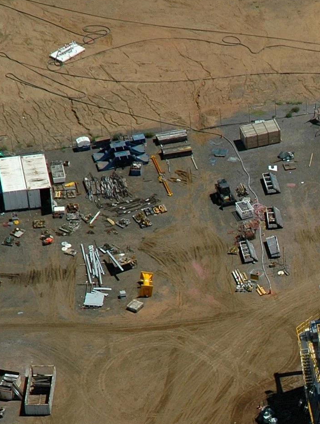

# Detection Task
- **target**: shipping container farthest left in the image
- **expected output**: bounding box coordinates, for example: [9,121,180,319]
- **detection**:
[0,155,29,210]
